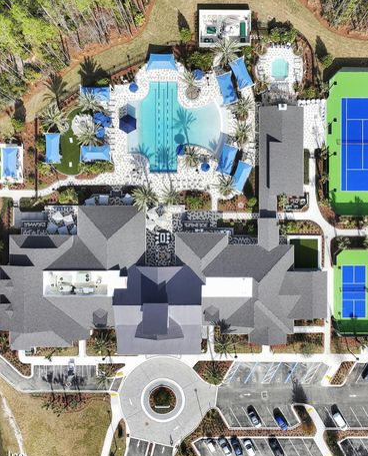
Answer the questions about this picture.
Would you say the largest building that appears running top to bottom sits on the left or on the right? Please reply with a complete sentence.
You can find the largest building that appears running top to bottom on the right side of the picture.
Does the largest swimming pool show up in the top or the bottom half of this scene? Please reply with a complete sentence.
Seen from above, the largest swimming pool lies in the top half of the view.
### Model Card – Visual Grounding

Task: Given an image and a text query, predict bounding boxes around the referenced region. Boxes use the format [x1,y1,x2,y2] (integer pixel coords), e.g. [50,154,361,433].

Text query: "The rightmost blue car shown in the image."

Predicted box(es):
[274,412,288,431]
